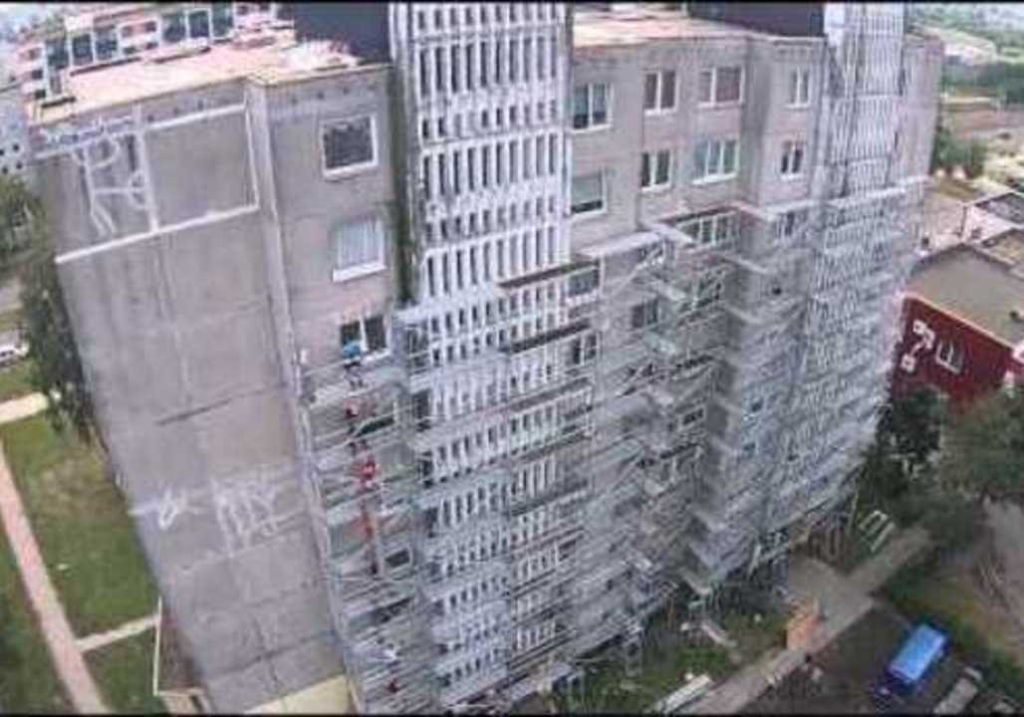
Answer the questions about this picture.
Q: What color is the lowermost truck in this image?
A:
blue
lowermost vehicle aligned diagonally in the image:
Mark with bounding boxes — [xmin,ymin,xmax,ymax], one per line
[867,620,948,717]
